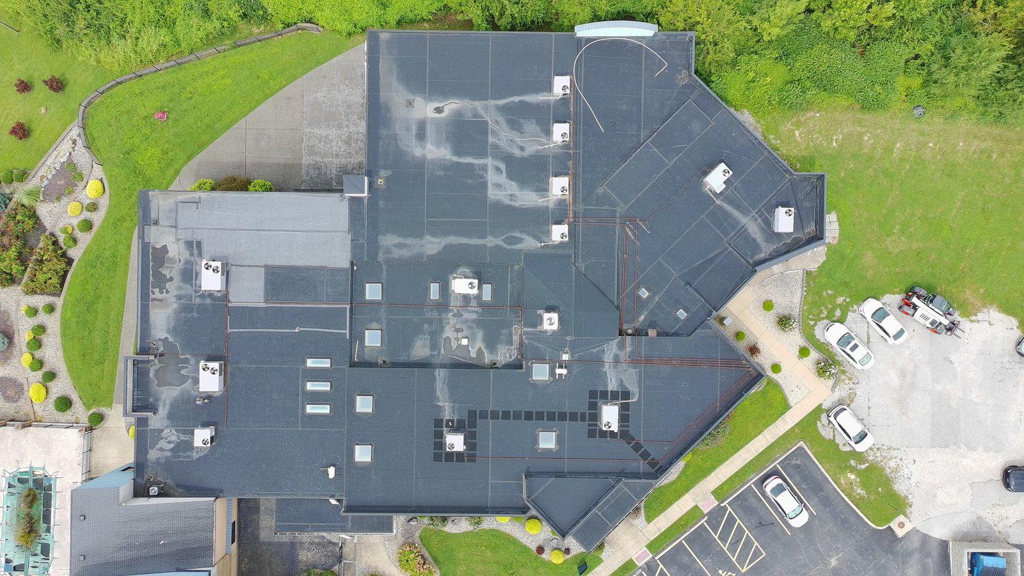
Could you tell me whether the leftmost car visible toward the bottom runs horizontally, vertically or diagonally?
diagonally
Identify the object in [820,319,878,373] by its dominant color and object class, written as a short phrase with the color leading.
white car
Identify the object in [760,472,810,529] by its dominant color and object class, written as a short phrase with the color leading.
white car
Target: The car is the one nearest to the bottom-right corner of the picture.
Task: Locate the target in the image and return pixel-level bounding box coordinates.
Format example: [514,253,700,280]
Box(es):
[1000,464,1024,492]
